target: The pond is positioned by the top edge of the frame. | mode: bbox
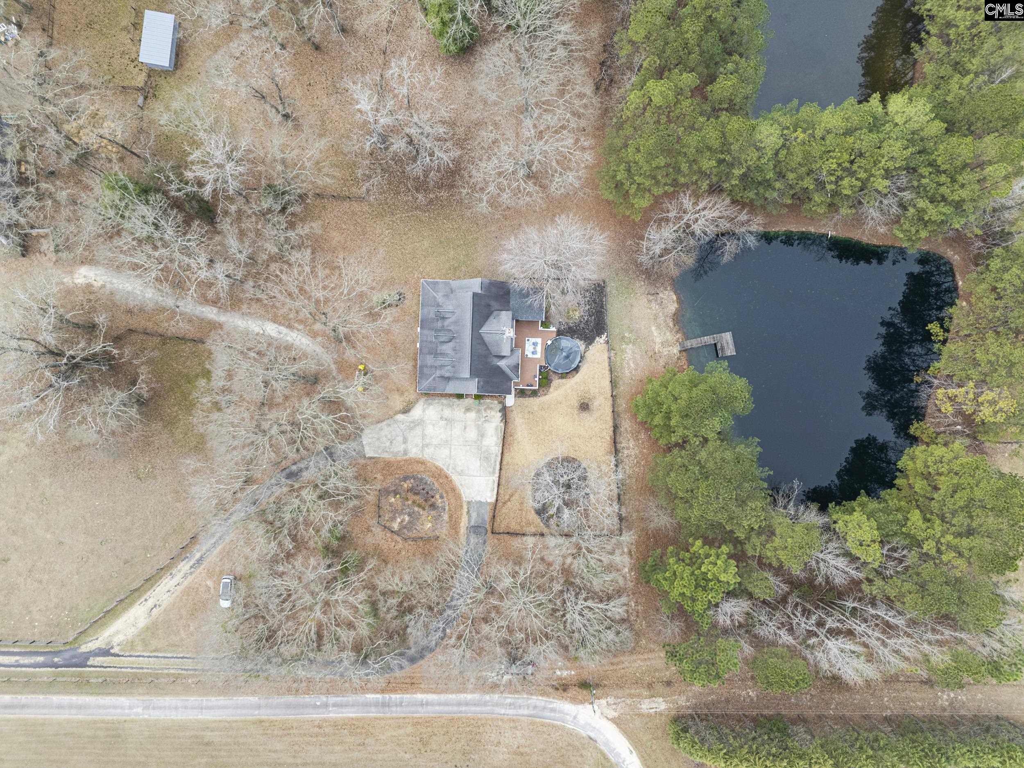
[745,0,939,122]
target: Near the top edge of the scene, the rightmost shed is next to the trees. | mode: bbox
[139,10,182,73]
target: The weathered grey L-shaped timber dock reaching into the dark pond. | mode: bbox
[680,332,736,357]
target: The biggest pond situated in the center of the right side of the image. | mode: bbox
[676,232,956,507]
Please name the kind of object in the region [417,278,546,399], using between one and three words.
house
